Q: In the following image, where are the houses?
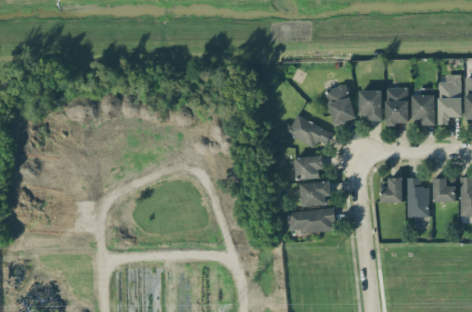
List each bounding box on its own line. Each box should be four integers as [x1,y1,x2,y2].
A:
[412,95,436,126]
[300,182,330,208]
[460,178,472,218]
[292,114,334,152]
[380,178,402,202]
[288,210,335,234]
[386,88,409,126]
[438,76,462,124]
[408,178,430,218]
[433,178,456,202]
[294,156,324,180]
[358,91,382,122]
[324,84,357,127]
